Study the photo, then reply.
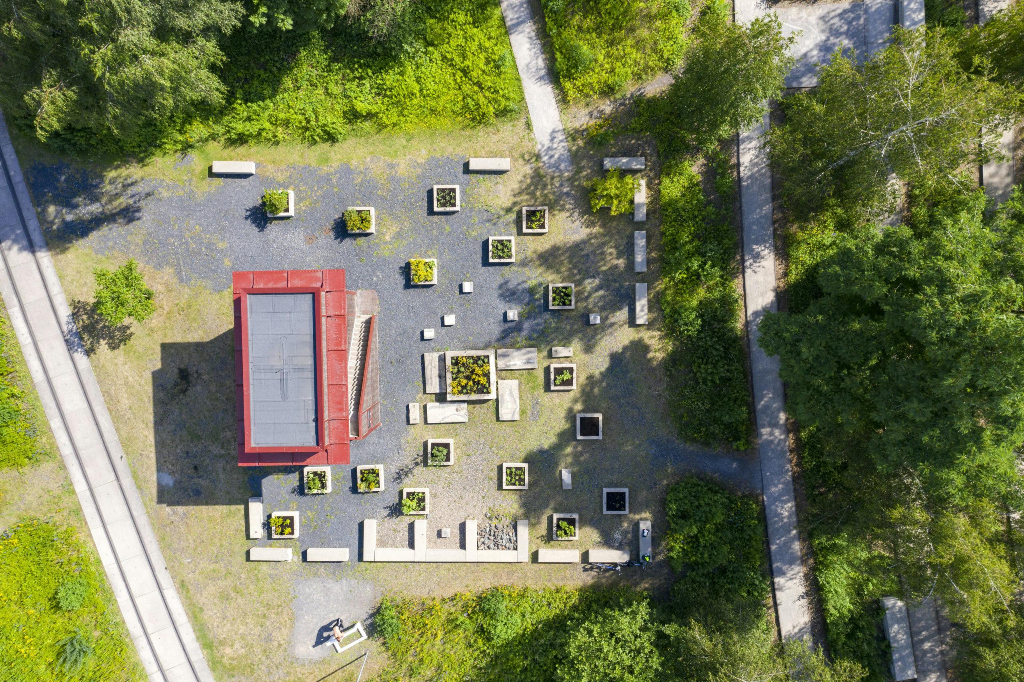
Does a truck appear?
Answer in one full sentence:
No, I can't see a single truck in this photo.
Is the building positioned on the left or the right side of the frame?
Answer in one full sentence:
It is on the left.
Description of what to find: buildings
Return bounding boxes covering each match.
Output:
[234,269,382,466]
